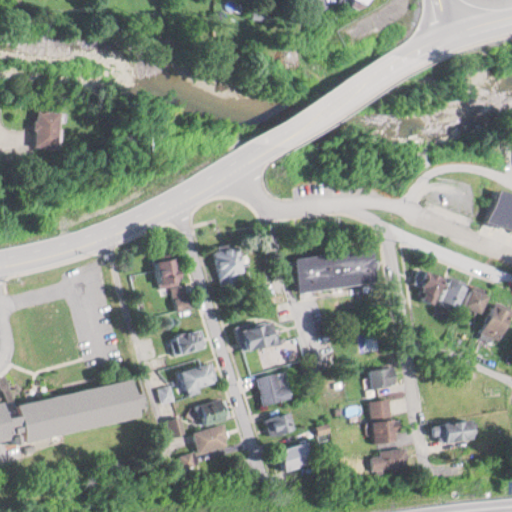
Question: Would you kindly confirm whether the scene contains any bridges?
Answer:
Yes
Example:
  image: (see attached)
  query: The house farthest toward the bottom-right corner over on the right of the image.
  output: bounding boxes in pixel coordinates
[440,420,480,444]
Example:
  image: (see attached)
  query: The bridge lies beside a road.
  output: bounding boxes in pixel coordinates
[245,44,420,158]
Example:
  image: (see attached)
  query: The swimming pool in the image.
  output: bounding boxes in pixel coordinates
[344,404,362,422]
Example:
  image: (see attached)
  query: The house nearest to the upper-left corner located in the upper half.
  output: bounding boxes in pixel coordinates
[34,111,67,147]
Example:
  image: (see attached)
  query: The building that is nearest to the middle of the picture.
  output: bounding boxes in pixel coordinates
[212,244,250,278]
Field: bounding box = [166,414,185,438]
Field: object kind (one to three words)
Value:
building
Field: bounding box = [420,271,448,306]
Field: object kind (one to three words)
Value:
house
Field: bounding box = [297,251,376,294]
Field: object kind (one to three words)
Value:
building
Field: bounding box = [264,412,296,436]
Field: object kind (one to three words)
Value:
house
